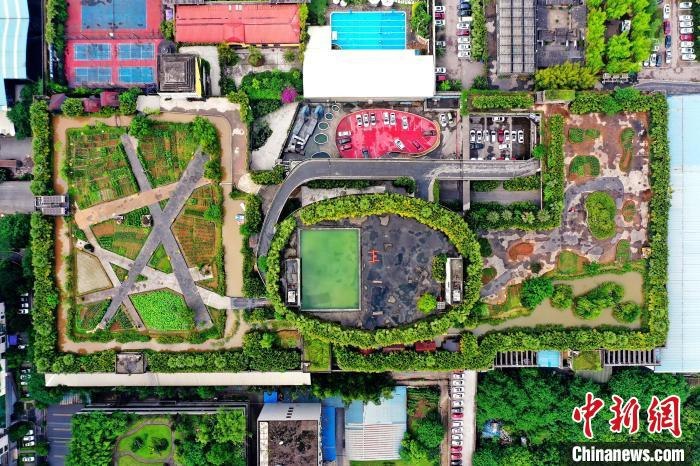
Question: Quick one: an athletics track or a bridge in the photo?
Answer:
bridge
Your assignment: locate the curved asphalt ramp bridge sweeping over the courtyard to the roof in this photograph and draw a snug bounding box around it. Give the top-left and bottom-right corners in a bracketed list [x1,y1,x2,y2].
[253,158,541,276]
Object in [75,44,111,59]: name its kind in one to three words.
sports court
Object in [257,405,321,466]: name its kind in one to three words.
building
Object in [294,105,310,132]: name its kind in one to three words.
vehicle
